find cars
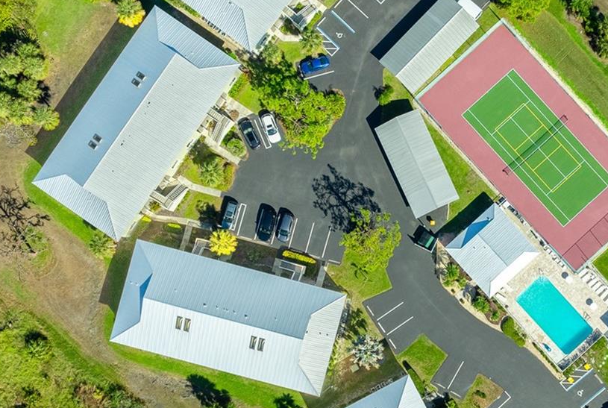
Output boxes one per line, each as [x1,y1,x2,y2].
[221,201,239,230]
[301,56,331,73]
[261,113,282,145]
[240,120,262,150]
[278,212,295,242]
[257,206,275,241]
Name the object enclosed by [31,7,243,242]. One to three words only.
building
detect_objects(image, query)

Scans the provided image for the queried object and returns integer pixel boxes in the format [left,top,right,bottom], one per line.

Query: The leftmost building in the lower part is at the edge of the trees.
[109,231,347,398]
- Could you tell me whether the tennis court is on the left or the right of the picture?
right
